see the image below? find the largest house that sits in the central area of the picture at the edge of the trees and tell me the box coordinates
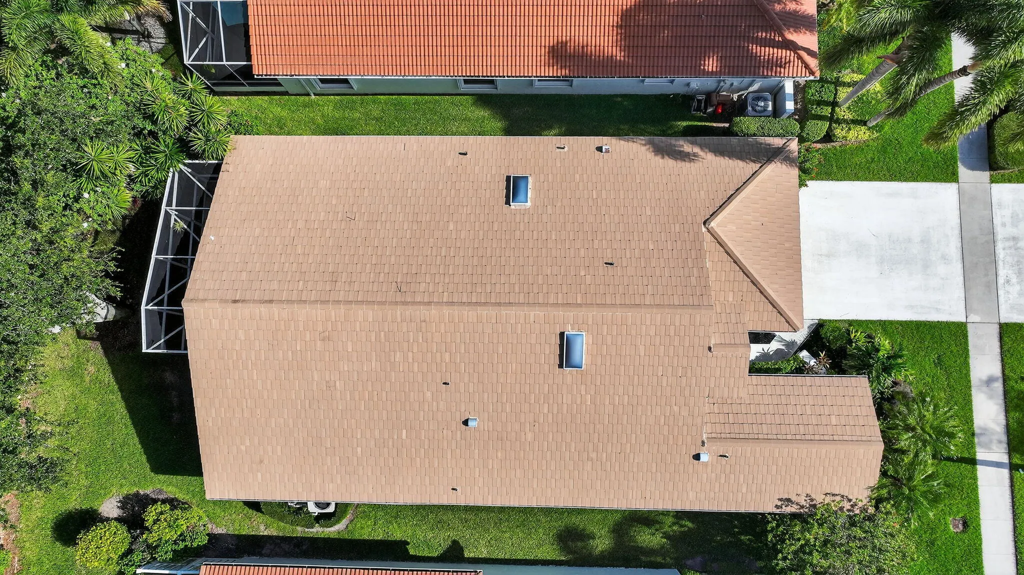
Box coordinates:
[181,133,889,517]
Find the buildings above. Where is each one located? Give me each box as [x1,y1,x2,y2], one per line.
[197,557,484,575]
[181,133,889,517]
[243,0,823,99]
